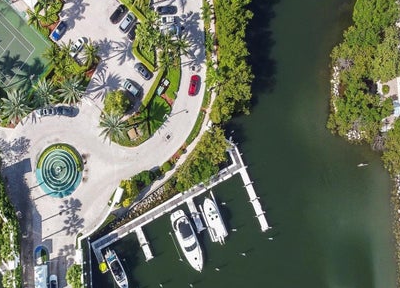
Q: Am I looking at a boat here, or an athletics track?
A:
boat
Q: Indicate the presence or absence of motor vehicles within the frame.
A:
Yes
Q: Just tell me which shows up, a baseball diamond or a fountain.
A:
fountain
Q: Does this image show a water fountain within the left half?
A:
Yes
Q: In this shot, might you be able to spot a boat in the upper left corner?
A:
No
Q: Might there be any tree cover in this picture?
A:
Yes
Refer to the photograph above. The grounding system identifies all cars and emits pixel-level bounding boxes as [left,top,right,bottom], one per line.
[55,104,76,119]
[125,23,144,44]
[36,106,56,118]
[49,20,69,43]
[48,275,58,288]
[132,61,153,82]
[108,2,129,27]
[159,14,179,26]
[186,74,201,97]
[156,3,178,17]
[120,76,142,99]
[118,11,138,36]
[68,37,88,59]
